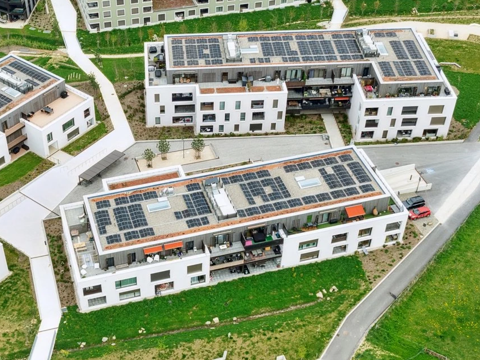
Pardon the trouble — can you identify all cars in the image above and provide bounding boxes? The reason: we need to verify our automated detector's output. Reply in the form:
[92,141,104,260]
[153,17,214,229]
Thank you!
[408,204,433,220]
[401,193,428,211]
